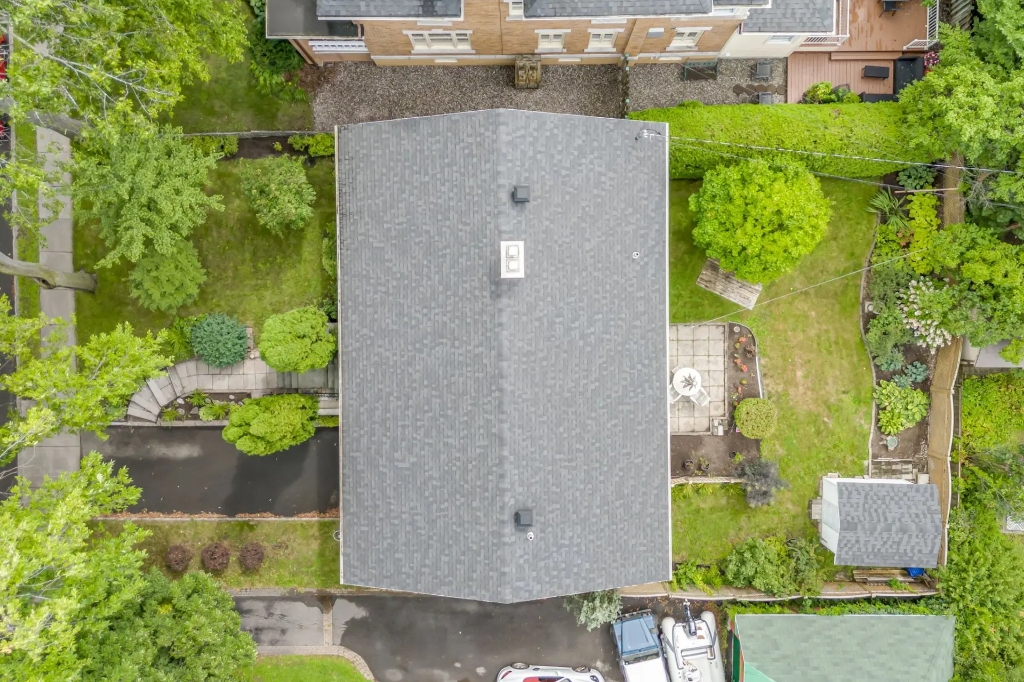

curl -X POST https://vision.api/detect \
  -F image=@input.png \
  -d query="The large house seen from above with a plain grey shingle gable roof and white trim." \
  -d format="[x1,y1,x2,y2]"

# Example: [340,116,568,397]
[335,106,674,602]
